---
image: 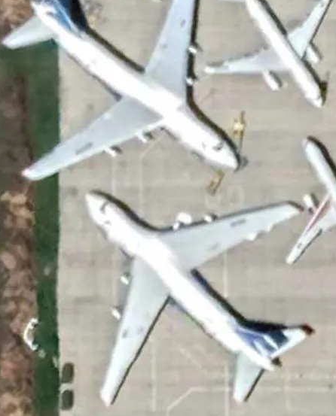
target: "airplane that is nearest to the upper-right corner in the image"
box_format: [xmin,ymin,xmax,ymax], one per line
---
[195,0,335,107]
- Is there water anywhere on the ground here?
No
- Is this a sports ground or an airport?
airport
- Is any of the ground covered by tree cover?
No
